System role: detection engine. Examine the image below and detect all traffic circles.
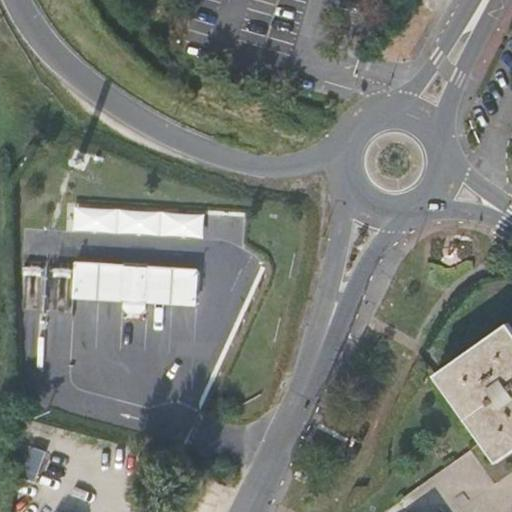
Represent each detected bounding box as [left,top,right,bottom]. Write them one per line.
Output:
[312,82,478,229]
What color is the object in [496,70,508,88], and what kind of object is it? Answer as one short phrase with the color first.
white vehicle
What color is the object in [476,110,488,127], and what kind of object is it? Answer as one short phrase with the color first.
white vehicle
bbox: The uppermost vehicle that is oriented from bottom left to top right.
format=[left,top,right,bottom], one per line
[167,362,180,379]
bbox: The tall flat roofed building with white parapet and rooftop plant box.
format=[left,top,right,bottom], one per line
[430,324,512,464]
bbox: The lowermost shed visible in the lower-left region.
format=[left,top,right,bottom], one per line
[26,447,50,480]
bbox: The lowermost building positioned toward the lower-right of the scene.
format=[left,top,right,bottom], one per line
[384,446,512,512]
